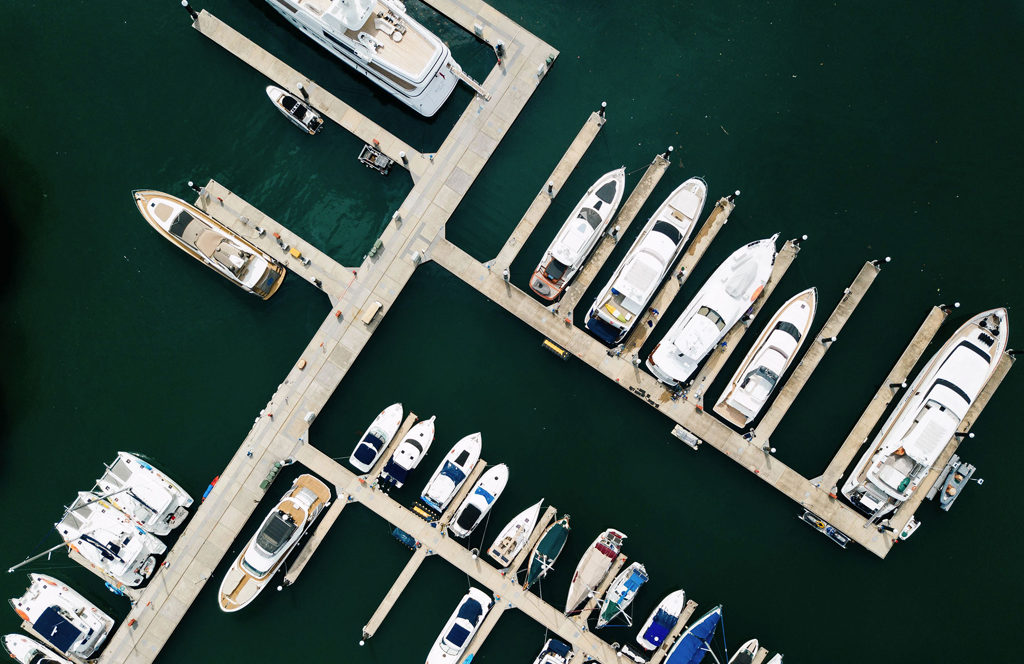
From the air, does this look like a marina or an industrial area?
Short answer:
marina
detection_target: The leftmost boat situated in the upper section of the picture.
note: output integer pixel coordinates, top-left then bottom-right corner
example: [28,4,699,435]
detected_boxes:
[129,188,289,302]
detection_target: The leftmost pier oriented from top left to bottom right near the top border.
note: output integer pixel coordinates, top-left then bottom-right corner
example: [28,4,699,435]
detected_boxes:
[192,9,437,185]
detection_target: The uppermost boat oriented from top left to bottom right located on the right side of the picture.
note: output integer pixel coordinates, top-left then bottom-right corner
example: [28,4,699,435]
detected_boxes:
[606,305,626,323]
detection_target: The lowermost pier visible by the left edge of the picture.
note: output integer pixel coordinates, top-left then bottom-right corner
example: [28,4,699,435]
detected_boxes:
[20,621,99,664]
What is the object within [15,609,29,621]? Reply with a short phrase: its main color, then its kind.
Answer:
orange boat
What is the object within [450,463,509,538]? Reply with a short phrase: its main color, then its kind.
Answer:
white boat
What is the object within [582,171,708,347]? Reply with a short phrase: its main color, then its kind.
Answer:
white boat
